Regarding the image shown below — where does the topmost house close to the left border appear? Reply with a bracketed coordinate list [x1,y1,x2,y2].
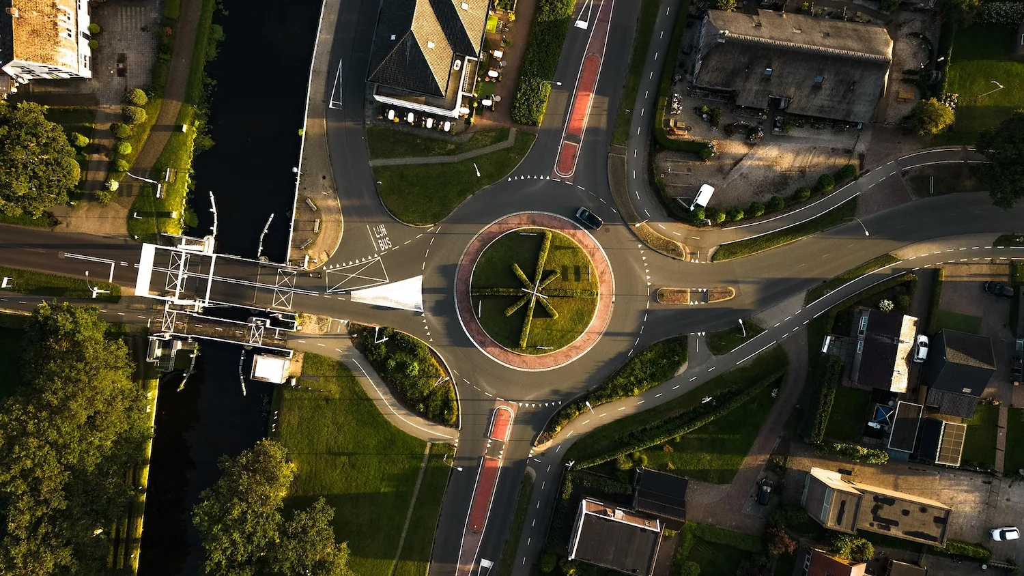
[0,0,90,80]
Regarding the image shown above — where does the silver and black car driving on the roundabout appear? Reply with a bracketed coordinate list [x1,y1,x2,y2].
[576,206,604,230]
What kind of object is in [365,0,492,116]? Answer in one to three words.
building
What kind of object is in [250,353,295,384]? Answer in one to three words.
shed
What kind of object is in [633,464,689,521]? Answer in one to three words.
building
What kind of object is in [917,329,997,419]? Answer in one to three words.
house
